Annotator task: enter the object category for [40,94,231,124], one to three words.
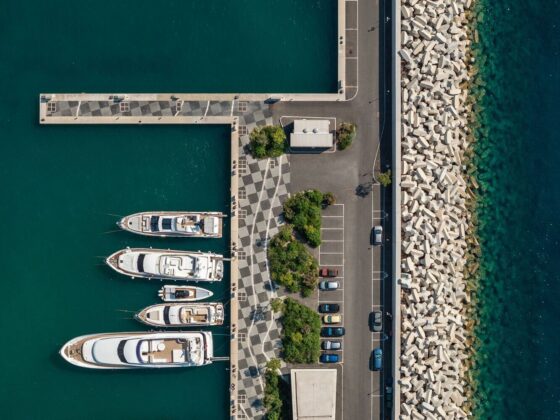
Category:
pier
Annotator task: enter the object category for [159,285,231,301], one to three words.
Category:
boat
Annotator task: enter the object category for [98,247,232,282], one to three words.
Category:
boat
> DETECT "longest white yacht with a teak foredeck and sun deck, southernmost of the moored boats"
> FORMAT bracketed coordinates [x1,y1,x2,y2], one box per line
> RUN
[60,327,232,370]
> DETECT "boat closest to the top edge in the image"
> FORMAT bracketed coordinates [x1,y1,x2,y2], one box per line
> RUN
[106,211,229,240]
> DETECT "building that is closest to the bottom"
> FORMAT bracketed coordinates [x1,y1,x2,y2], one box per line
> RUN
[291,369,337,420]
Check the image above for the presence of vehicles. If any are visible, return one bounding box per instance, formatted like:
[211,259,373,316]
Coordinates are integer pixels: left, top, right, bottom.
[319,353,340,363]
[374,311,383,331]
[318,304,340,314]
[374,225,383,244]
[323,316,341,325]
[320,326,345,337]
[374,348,383,370]
[320,281,341,290]
[320,268,339,277]
[321,341,341,351]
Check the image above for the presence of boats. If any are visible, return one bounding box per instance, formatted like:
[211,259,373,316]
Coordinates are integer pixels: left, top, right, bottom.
[98,247,232,282]
[106,211,229,240]
[159,285,231,301]
[216,305,223,319]
[60,327,232,370]
[118,296,233,328]
[215,260,223,278]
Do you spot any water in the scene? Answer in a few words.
Yes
